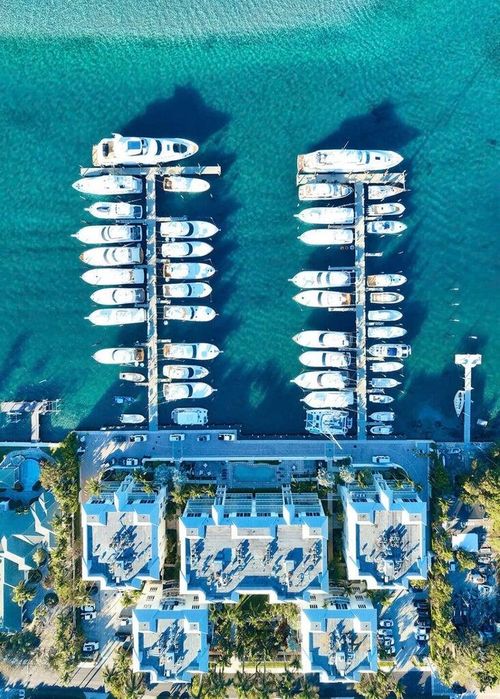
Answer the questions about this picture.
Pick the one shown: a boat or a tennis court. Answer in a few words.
boat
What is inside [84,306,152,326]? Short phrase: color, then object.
white boat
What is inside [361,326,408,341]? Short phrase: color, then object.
white boat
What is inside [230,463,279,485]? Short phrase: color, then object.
blue swimming pool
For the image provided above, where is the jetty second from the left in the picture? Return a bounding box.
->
[77,160,221,429]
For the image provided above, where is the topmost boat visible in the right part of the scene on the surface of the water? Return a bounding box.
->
[294,129,406,172]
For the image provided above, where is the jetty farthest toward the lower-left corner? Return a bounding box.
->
[0,401,62,443]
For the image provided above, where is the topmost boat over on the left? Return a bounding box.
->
[91,120,199,165]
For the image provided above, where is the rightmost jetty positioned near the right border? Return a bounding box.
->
[454,353,486,443]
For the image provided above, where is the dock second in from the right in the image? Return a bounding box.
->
[296,168,408,439]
